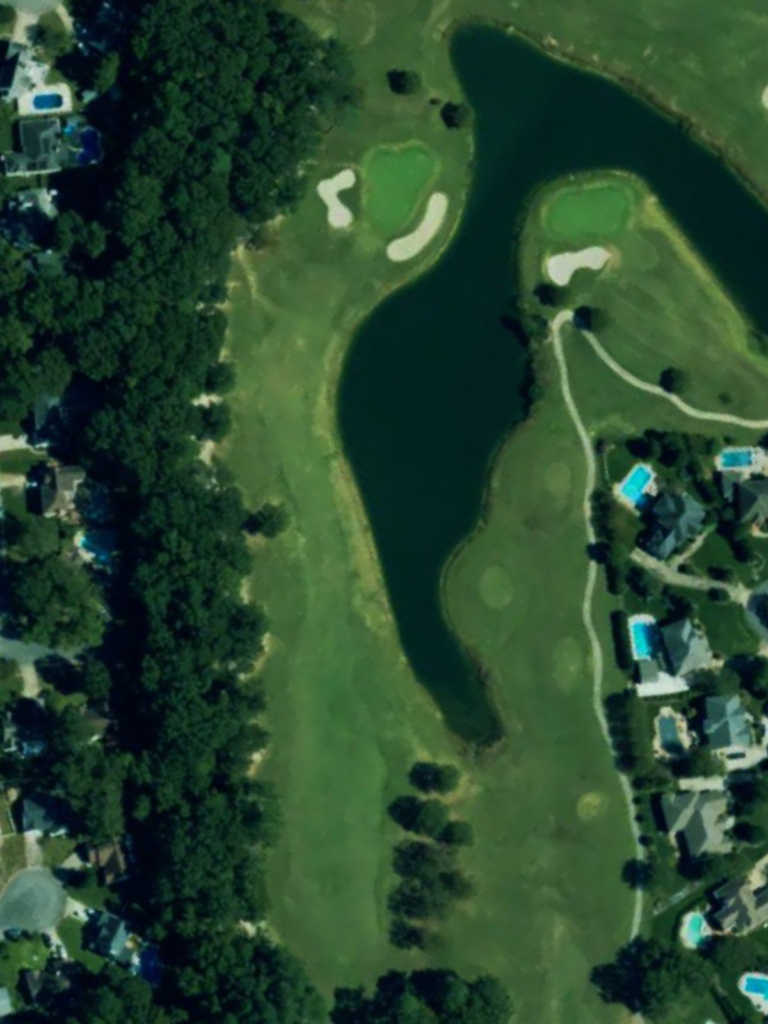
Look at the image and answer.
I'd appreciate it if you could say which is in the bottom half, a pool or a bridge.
pool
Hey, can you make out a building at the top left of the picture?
Yes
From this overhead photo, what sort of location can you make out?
golf course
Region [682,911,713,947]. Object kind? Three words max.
swimming pool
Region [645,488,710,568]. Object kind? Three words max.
house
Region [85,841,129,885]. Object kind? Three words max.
house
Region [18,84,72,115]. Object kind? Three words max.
swimming pool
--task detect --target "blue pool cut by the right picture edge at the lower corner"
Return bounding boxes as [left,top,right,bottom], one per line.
[739,971,768,1015]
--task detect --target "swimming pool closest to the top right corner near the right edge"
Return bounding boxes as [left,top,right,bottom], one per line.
[716,446,768,474]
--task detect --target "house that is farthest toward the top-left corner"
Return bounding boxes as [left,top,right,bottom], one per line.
[0,41,44,102]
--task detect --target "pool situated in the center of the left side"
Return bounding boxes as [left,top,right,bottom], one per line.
[73,528,120,562]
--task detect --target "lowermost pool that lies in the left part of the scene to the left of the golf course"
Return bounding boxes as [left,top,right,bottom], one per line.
[132,948,161,987]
